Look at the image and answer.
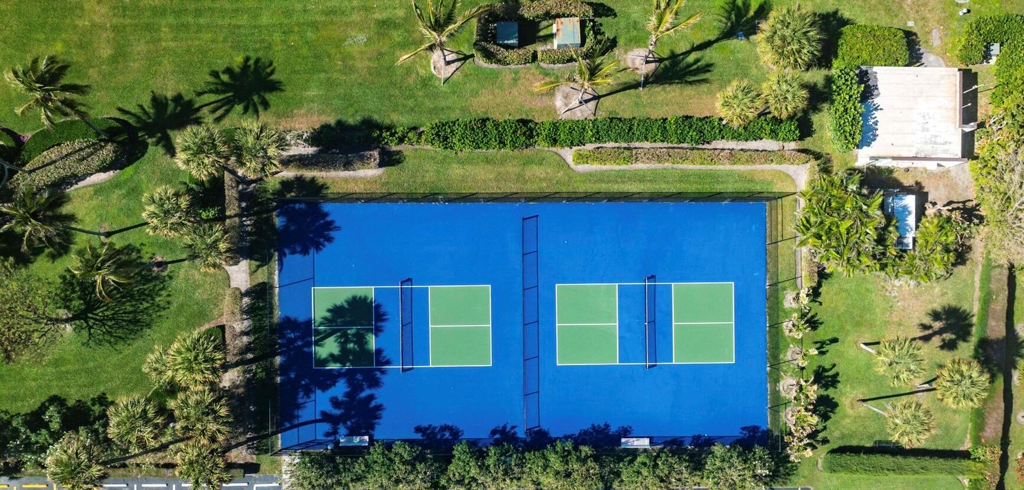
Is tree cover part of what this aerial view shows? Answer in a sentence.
Yes, tree cover can be seen from above here.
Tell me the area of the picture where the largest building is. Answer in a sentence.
The largest building appears toward the top right of the photo.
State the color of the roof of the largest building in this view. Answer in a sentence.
The color of the roof on the largest building is white.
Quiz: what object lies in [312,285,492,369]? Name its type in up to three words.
sports court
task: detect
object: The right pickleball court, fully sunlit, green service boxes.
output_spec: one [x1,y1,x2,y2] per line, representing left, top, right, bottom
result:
[556,282,735,366]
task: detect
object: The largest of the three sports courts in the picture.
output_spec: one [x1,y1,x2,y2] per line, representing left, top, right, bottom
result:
[278,202,768,449]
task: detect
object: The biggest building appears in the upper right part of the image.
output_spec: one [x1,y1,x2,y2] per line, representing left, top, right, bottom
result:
[854,66,981,171]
